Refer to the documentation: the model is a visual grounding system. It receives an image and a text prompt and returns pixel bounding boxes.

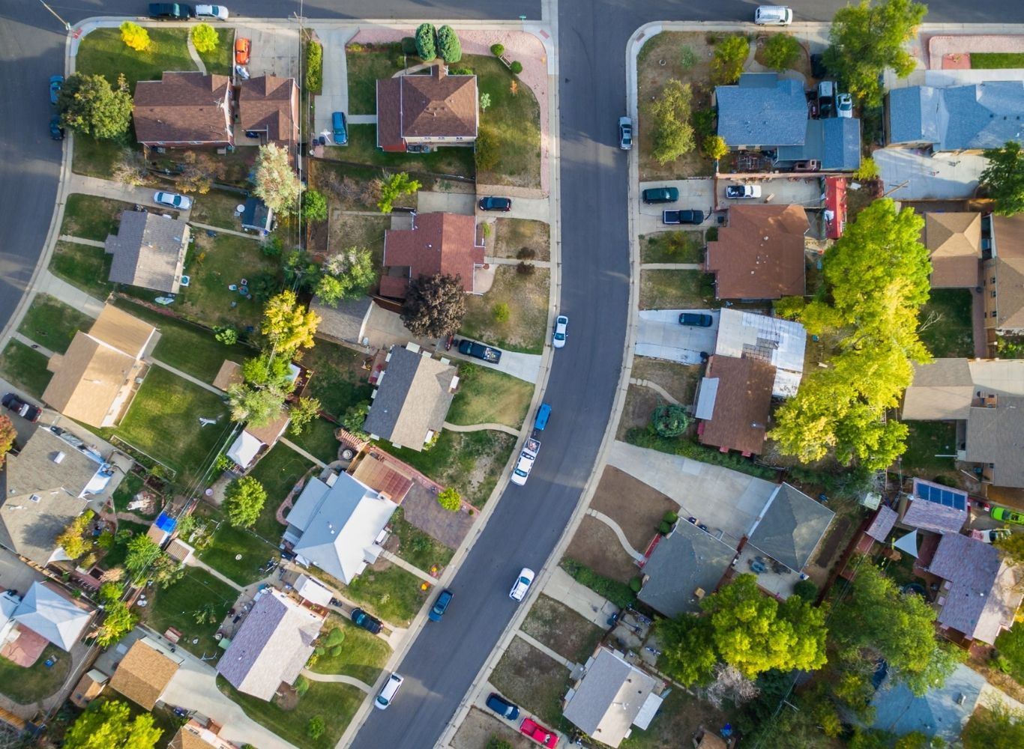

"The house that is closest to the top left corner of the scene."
[130,71,239,147]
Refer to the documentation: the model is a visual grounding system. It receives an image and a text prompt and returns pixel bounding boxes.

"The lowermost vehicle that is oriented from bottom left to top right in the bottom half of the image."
[373,669,404,711]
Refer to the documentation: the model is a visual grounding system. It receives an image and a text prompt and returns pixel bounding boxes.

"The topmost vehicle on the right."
[754,3,793,25]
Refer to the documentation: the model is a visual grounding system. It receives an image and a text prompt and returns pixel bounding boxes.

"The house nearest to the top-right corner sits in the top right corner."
[882,78,1024,156]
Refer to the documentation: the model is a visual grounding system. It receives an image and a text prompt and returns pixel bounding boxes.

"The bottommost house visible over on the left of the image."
[167,718,242,749]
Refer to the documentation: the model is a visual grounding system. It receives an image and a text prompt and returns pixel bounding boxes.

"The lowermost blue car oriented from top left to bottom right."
[483,691,522,722]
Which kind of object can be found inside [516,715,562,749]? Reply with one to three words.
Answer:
truck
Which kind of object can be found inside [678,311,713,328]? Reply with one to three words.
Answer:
car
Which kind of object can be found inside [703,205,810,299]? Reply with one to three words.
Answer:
house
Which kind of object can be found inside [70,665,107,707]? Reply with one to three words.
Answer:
shed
